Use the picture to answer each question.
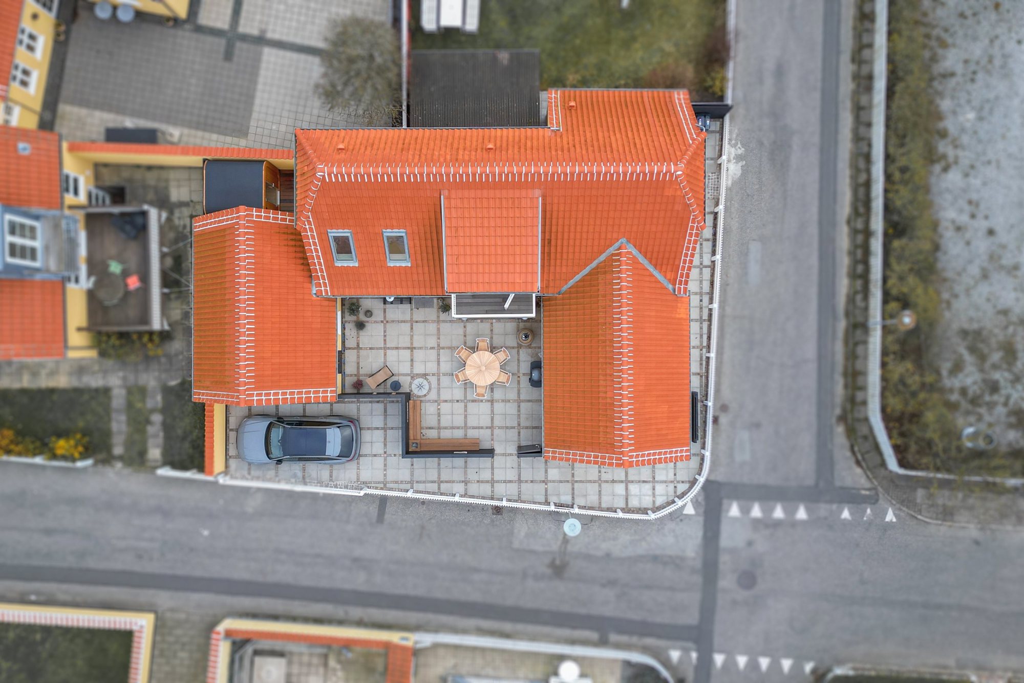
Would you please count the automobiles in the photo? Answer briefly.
1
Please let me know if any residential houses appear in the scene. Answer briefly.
Yes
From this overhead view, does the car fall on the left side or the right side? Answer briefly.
left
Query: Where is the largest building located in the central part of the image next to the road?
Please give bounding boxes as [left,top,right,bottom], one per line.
[291,87,711,471]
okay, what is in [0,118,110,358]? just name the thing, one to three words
house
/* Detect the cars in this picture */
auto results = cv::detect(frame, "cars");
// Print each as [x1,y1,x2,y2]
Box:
[238,411,364,471]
